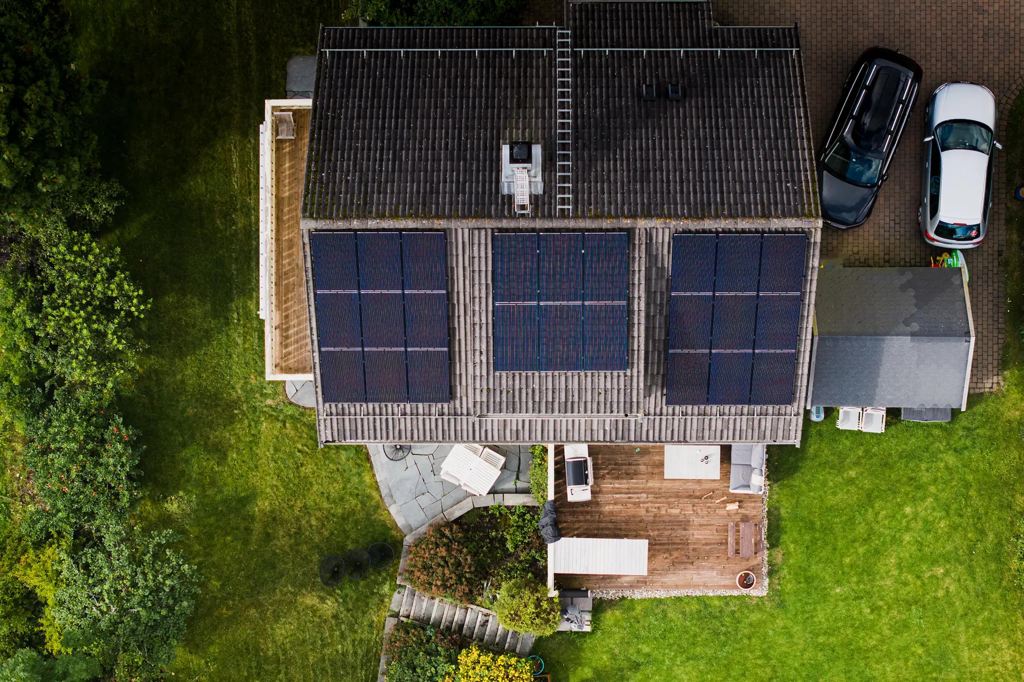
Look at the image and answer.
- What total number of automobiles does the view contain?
two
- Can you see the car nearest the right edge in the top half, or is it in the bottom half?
top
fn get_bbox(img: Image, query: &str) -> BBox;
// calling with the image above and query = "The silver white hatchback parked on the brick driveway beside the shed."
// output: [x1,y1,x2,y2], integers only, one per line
[917,81,1008,250]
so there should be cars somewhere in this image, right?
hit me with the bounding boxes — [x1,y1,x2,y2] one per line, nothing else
[814,41,924,232]
[917,81,1008,250]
